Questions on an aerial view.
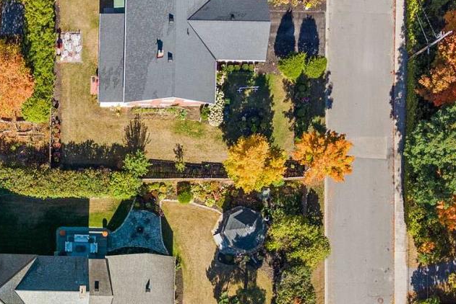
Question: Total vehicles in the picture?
zero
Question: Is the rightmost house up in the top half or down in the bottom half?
top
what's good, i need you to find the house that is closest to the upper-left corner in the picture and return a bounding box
[98,0,271,107]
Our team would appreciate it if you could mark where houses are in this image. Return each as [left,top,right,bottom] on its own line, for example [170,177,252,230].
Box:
[0,252,175,304]
[98,0,271,107]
